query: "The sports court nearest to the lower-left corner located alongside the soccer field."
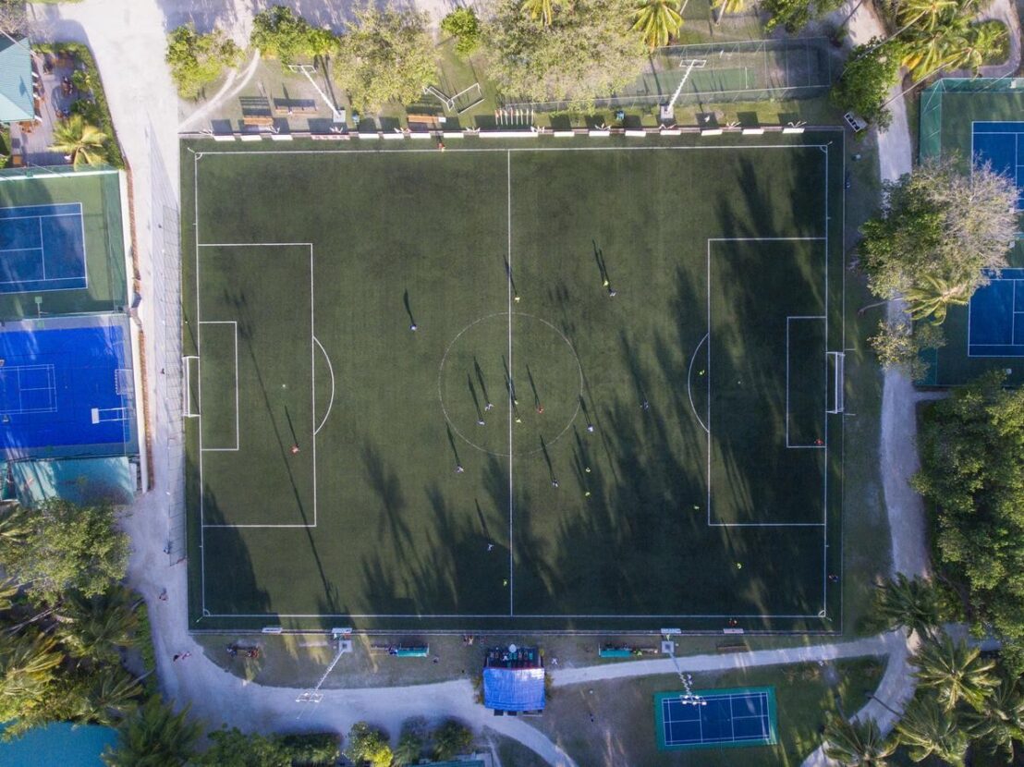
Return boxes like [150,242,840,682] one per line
[0,318,139,458]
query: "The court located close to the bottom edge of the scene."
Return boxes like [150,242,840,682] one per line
[654,686,777,750]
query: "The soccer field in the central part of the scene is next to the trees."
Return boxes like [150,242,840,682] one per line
[178,124,845,637]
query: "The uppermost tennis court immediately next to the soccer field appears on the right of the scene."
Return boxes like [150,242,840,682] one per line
[922,91,1024,236]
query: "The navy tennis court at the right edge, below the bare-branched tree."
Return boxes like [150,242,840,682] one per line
[920,237,1024,386]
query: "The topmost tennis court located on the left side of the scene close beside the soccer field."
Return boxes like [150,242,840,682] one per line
[0,170,128,321]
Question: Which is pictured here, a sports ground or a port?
sports ground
